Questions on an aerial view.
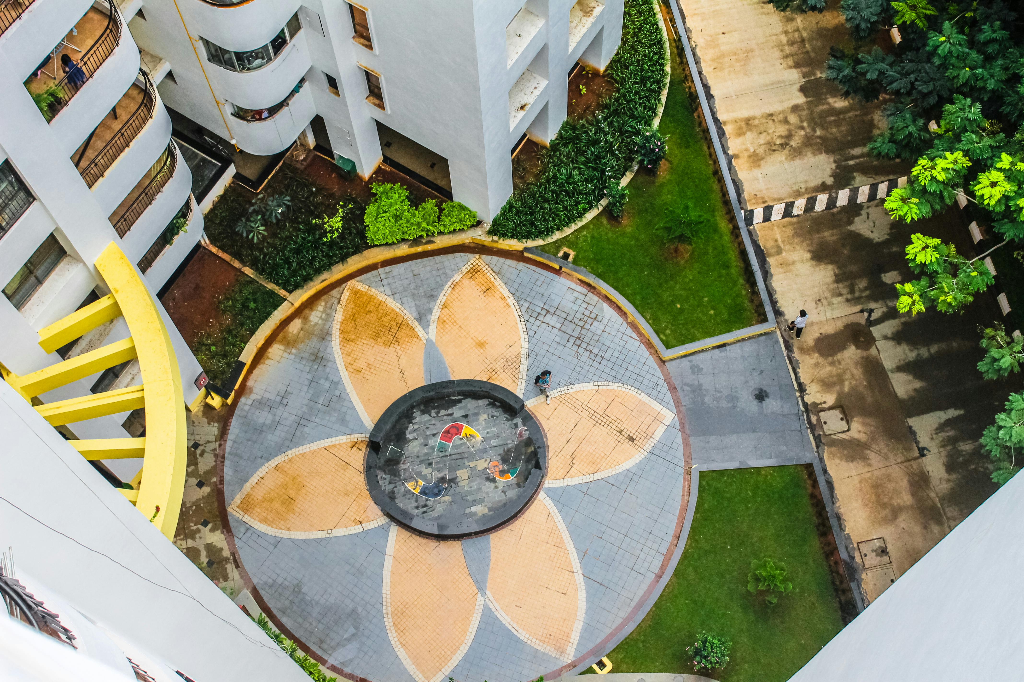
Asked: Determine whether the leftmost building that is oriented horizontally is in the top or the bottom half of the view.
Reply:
top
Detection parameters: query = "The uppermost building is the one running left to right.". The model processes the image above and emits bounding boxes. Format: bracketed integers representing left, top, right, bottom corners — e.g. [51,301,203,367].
[111,0,624,221]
